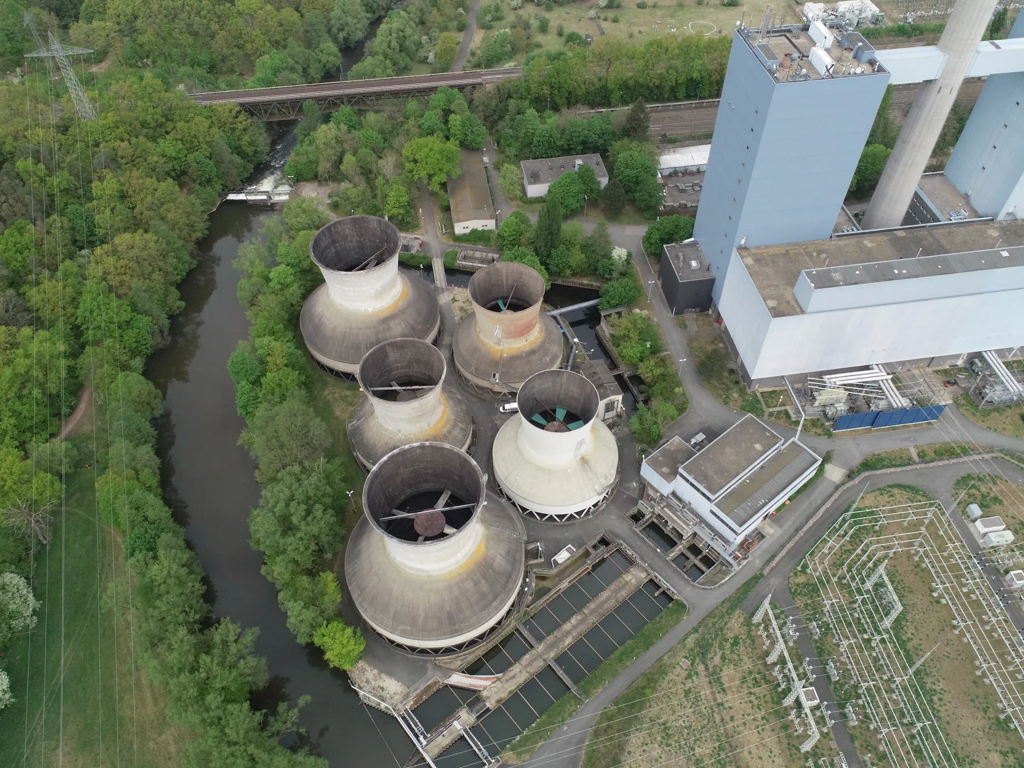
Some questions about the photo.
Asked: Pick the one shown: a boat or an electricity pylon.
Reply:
electricity pylon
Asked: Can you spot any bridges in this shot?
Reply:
Yes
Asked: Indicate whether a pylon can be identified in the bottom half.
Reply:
No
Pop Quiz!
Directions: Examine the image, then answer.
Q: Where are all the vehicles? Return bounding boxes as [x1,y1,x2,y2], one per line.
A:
[499,400,518,415]
[942,375,961,388]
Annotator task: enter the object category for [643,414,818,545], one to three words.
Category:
building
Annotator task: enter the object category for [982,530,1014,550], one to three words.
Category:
shed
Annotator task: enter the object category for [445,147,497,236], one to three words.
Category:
shed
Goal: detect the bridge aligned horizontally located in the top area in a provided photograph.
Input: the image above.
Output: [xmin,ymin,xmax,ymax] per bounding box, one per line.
[151,66,530,124]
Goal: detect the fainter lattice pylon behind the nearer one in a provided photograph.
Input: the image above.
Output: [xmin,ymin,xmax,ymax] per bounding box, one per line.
[9,12,51,65]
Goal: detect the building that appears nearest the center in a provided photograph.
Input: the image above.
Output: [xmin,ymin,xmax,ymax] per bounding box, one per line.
[578,360,626,417]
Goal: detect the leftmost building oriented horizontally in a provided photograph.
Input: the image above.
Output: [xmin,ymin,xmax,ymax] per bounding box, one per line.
[521,153,608,196]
